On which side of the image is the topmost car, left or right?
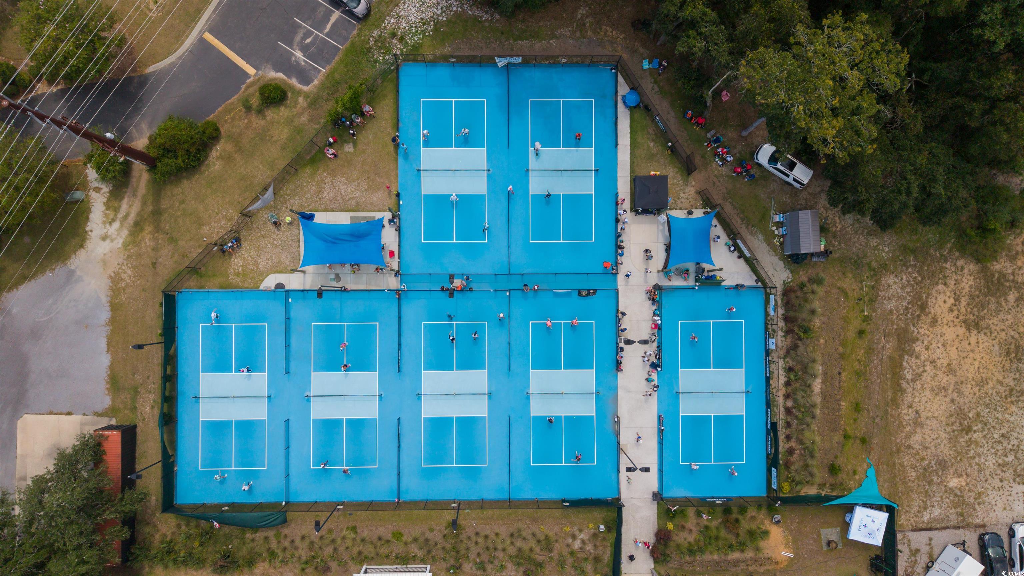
left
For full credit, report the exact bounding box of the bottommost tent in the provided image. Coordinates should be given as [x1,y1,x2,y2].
[837,504,889,546]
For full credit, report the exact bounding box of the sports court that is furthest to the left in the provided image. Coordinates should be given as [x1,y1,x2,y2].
[175,291,288,503]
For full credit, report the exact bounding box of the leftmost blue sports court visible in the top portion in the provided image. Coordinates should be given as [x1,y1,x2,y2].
[399,65,509,273]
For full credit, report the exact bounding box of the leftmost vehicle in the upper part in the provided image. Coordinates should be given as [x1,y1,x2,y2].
[331,0,376,23]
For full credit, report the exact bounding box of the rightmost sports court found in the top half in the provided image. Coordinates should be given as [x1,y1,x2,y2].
[509,66,618,273]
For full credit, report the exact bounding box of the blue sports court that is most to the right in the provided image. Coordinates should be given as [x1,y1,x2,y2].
[658,286,766,497]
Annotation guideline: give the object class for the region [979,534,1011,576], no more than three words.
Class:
car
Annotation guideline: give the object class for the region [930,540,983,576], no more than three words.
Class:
trailer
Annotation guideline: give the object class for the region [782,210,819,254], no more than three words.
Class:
shed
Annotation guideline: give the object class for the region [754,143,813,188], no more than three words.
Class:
car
